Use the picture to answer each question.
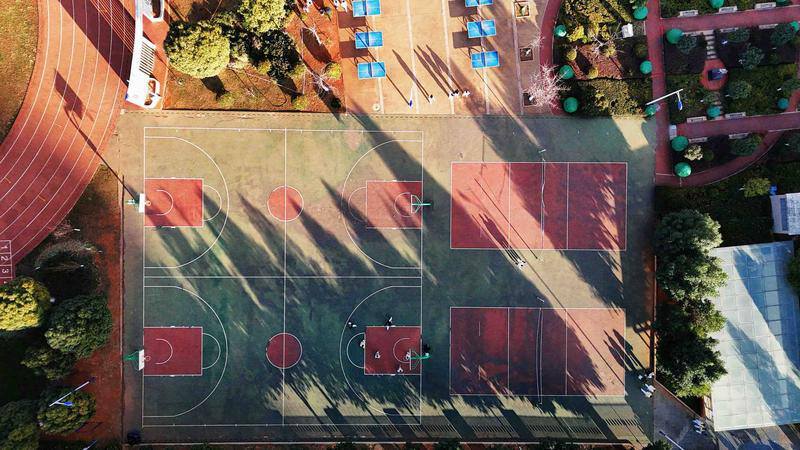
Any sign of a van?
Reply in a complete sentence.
No, no van can be seen from above.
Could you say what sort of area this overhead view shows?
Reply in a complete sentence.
What you see here is a sports ground.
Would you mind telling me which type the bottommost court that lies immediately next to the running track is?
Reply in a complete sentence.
I'd identify the bottommost court that lies immediately next to the running track as a basketball court.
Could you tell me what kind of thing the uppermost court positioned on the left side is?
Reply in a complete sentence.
It turns out the uppermost court positioned on the left side is a basketball court.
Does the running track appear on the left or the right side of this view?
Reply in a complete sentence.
The running track appears in the left half of the scene.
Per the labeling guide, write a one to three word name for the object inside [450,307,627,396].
sports court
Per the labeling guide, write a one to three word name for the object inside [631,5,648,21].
umbrella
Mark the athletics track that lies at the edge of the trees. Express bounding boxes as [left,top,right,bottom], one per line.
[0,0,143,285]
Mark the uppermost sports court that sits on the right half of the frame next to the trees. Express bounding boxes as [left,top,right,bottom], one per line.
[450,162,627,250]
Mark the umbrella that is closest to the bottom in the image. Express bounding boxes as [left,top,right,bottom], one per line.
[670,161,692,180]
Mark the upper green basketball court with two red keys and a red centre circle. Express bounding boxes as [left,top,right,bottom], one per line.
[143,127,422,277]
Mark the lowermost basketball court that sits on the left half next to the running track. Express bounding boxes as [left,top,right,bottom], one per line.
[141,277,421,426]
